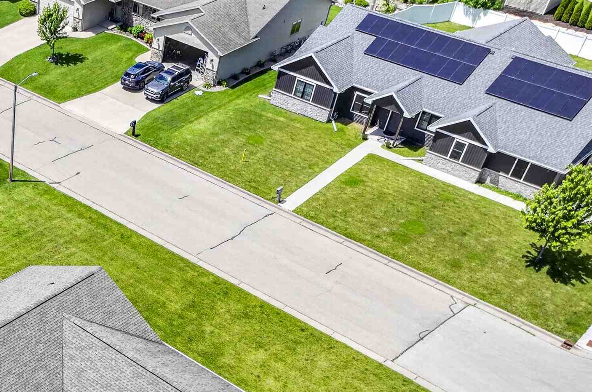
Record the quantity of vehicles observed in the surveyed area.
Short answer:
2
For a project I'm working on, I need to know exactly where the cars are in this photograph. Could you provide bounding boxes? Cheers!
[127,56,173,86]
[147,59,198,97]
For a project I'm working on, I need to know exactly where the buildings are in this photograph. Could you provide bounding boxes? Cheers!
[0,265,244,392]
[32,0,334,84]
[270,0,592,195]
[505,0,562,14]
